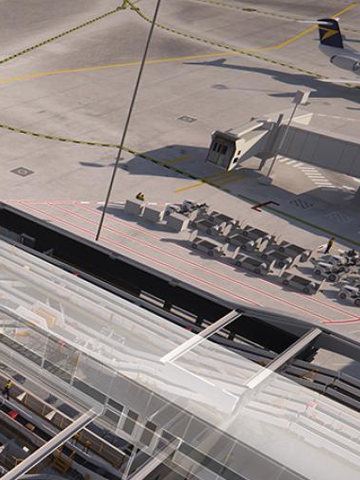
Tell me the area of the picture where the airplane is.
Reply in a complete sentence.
You can find the airplane in the top right area of the picture.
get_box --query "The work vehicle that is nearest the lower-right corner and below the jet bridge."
[333,281,360,305]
